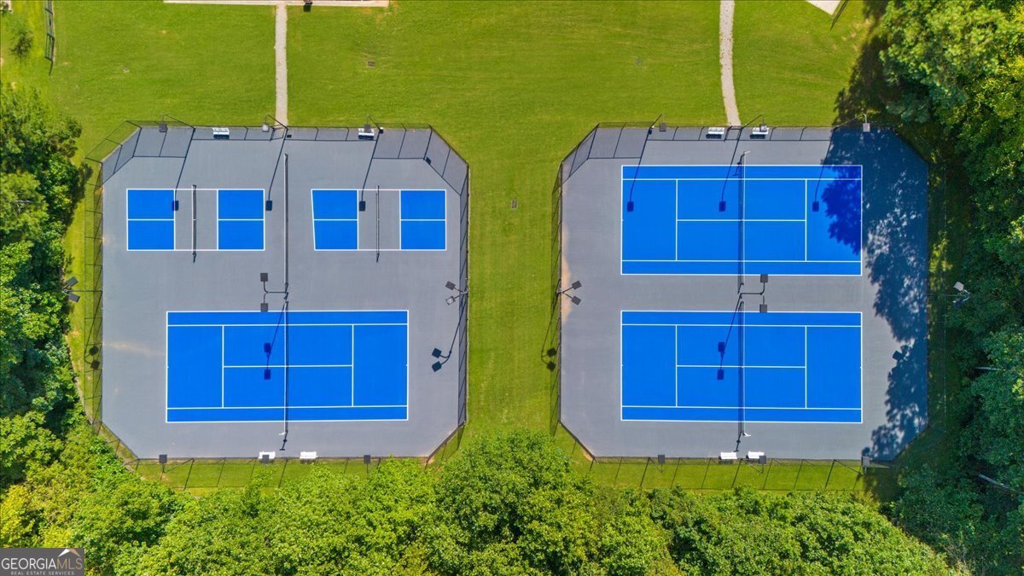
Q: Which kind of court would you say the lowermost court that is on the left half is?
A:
tennis court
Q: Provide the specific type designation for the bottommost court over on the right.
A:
tennis court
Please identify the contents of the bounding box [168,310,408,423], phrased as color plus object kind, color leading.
blue tennis court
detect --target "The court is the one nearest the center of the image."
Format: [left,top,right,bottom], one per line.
[311,189,446,250]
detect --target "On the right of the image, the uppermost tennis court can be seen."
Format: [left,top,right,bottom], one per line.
[622,165,863,276]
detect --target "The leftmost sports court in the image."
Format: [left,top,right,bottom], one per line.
[127,189,264,251]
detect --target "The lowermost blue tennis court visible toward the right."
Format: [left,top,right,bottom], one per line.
[621,311,863,424]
